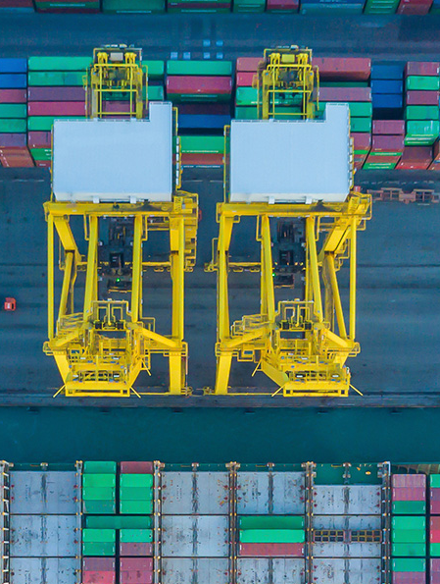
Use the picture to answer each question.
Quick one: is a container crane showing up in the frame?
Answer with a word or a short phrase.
Yes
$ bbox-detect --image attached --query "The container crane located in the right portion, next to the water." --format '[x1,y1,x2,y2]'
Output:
[195,47,376,400]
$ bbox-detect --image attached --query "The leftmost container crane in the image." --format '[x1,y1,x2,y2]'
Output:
[39,46,207,399]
